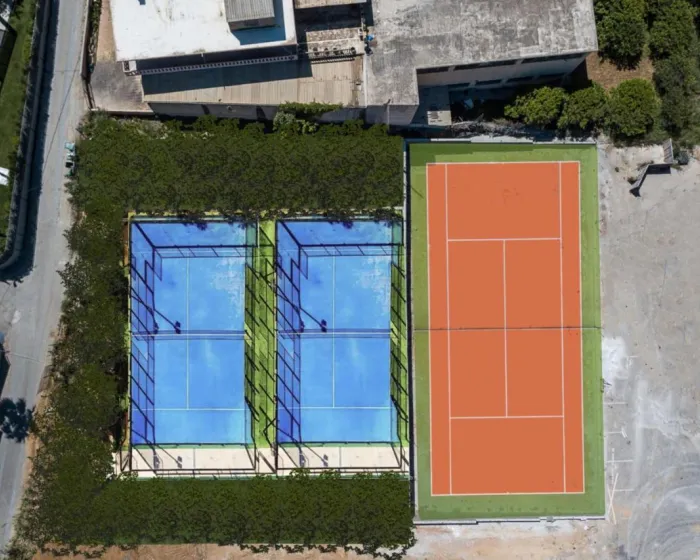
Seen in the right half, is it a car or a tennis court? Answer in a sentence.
You can see a tennis court in the right half.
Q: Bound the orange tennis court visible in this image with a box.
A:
[410,142,605,519]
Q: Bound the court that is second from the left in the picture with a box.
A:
[263,213,409,476]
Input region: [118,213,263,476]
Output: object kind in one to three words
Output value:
sports court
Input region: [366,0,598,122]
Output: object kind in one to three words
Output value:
building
